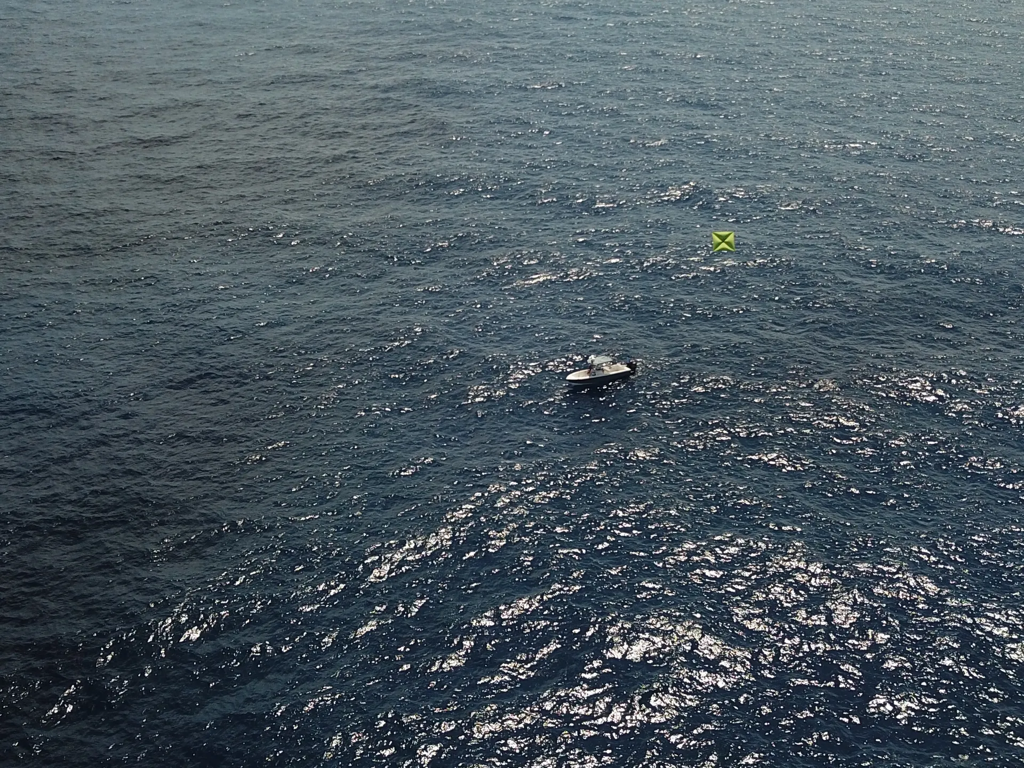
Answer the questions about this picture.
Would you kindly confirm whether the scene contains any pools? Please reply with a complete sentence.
No, the scene contains no pool.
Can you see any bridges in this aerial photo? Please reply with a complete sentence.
No, no bridge is visible in the scene.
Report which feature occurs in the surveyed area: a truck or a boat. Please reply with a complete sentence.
The one in the frame is a boat.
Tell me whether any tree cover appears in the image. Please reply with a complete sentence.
No, tree cover can't be seen anywhere here.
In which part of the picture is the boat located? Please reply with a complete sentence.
You can find the boat in the center area of the picture.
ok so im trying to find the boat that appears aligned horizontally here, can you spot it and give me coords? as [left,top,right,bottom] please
[566,350,637,386]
